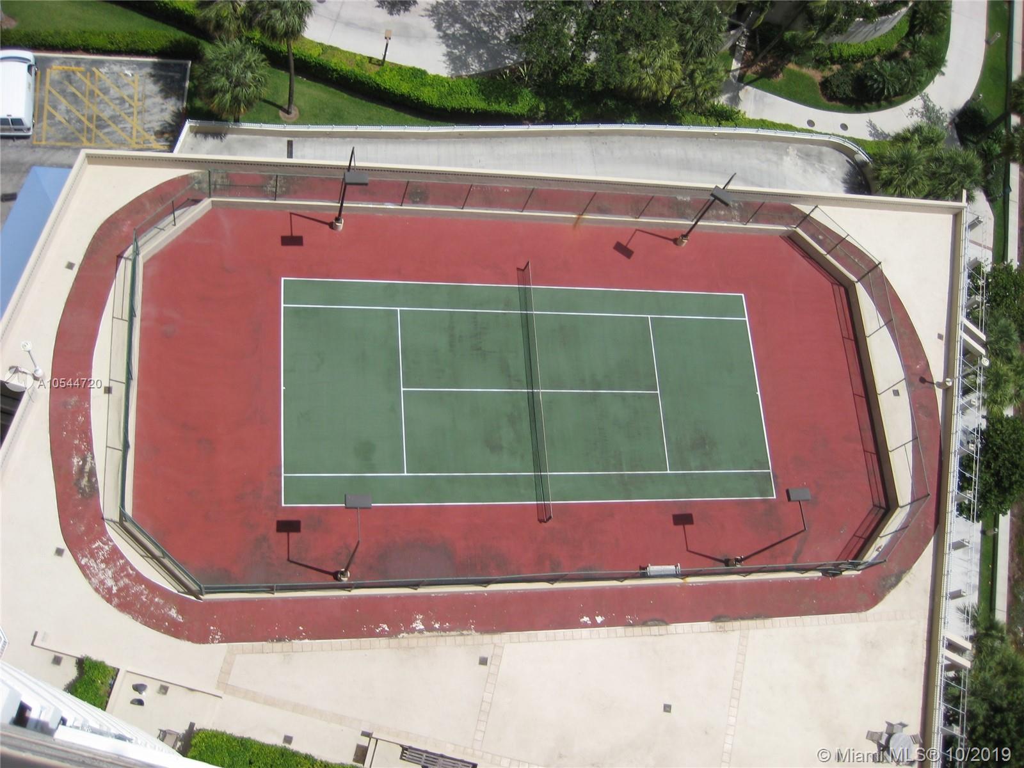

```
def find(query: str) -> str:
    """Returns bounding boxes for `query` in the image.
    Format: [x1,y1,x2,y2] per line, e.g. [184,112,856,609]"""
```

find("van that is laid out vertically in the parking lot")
[0,48,39,140]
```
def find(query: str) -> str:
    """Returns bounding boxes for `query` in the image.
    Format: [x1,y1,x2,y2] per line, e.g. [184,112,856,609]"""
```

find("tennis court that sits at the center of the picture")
[134,208,889,592]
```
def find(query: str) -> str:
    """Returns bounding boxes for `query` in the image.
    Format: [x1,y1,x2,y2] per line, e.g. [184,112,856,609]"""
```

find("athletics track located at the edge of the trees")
[50,170,942,642]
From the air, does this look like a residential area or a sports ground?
sports ground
